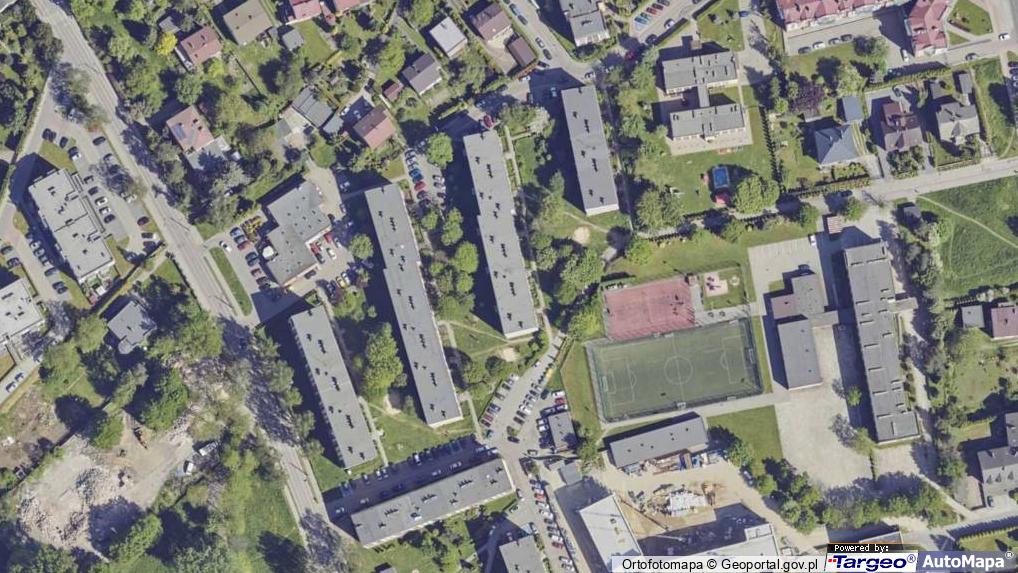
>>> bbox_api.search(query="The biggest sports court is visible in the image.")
[603,276,695,340]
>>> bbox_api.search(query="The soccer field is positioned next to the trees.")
[593,314,763,422]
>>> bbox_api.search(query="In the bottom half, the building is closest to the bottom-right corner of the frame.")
[977,447,1018,495]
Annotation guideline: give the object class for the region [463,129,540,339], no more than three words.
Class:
building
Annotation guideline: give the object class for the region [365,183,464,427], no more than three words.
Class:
building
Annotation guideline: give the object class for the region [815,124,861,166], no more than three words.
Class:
house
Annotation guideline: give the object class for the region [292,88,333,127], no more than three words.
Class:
shed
